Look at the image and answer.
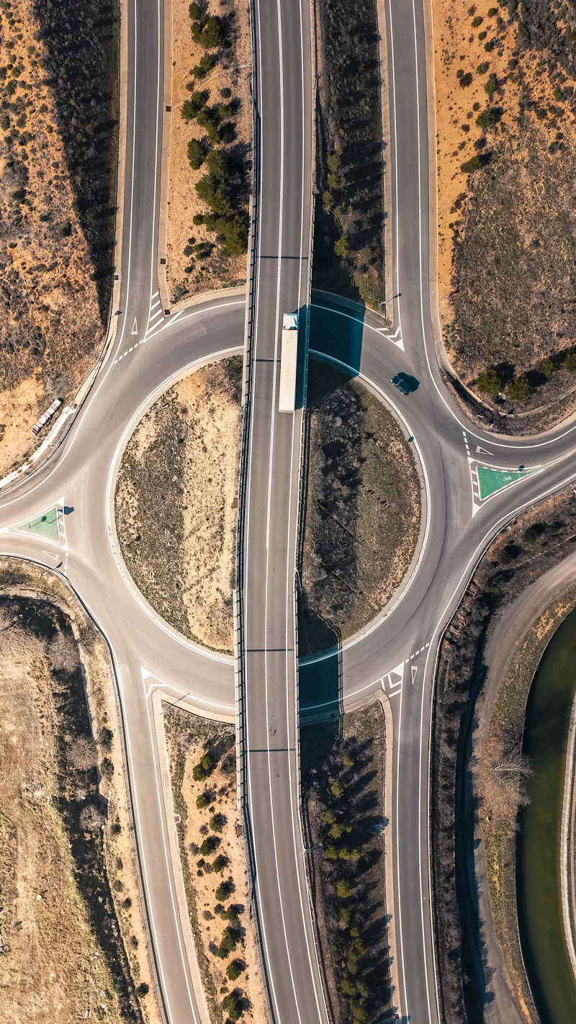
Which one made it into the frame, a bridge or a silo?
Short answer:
bridge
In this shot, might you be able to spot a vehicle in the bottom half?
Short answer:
No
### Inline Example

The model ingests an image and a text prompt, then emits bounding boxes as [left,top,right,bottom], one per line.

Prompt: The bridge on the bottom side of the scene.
[231,569,305,850]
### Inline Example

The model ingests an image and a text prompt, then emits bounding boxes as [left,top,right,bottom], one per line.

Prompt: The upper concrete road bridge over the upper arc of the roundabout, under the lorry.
[239,194,314,407]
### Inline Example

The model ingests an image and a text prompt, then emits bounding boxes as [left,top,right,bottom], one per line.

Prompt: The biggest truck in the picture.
[278,314,300,415]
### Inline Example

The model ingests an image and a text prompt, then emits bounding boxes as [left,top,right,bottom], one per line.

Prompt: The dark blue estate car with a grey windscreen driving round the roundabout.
[390,376,412,398]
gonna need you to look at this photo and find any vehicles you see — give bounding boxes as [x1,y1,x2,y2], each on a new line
[390,376,412,398]
[278,314,300,415]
